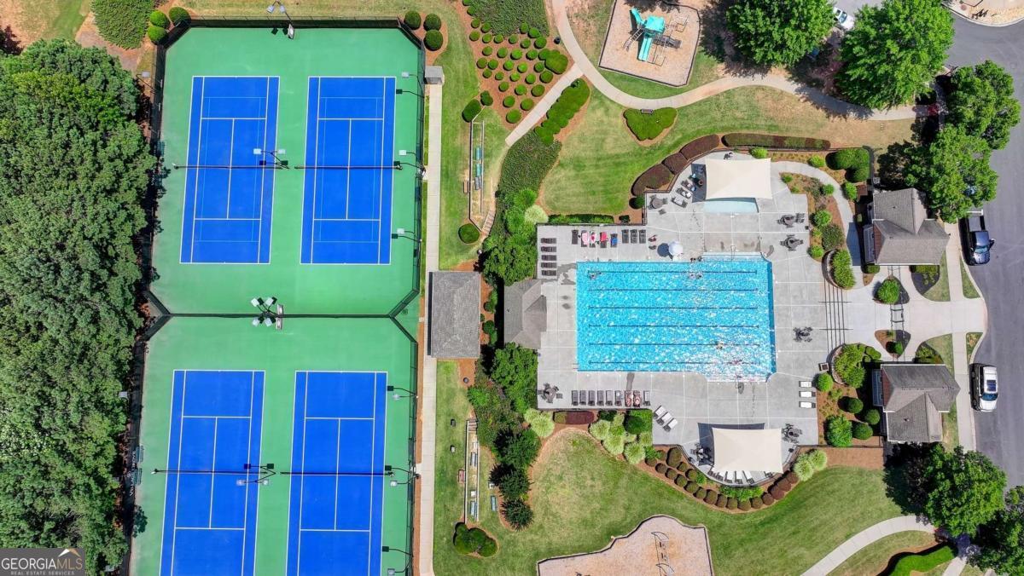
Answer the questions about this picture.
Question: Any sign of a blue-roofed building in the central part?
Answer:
No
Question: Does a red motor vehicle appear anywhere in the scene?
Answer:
No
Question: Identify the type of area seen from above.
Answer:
sports ground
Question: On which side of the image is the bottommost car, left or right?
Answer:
right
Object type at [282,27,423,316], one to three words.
tennis court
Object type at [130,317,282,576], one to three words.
tennis court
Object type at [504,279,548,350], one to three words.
building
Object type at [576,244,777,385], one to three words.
swimming pool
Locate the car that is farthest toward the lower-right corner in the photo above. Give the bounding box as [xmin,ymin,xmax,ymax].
[972,367,1000,410]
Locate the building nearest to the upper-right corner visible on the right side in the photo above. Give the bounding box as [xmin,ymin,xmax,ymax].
[860,187,952,265]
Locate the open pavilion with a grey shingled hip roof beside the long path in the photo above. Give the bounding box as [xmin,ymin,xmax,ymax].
[430,271,479,358]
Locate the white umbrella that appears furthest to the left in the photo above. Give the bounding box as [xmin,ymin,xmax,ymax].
[668,241,683,256]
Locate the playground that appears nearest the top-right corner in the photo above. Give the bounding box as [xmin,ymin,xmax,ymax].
[596,0,703,89]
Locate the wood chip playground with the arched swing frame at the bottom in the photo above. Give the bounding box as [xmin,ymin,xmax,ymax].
[534,513,716,576]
